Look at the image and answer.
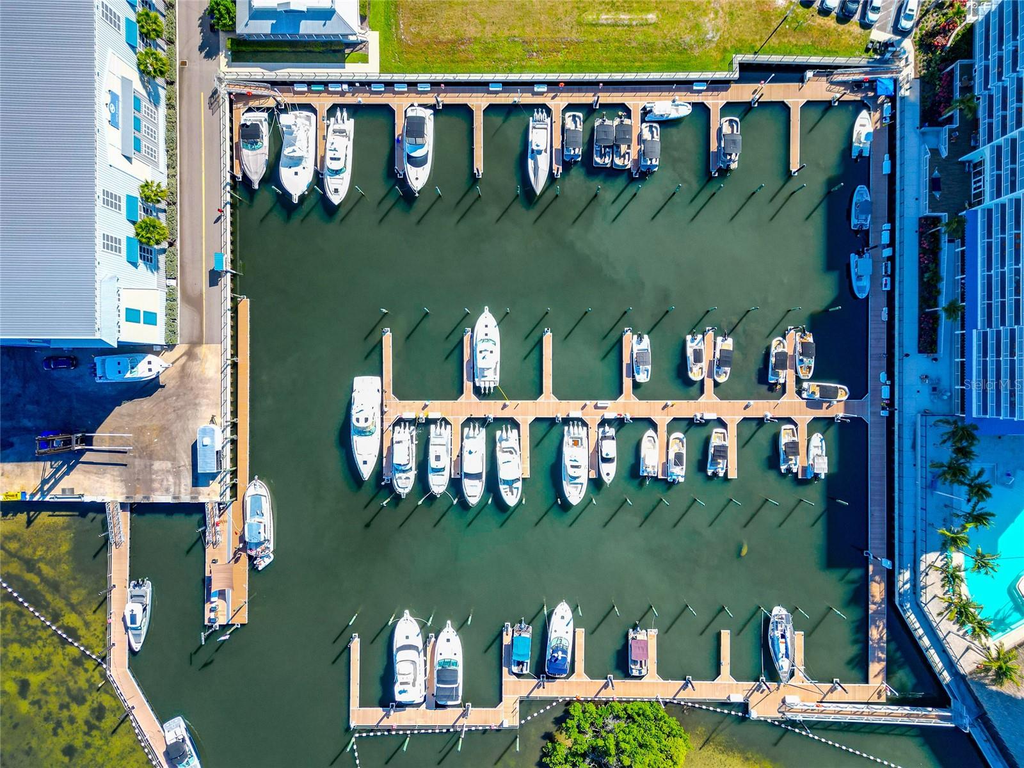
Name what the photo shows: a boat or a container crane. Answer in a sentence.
The one in the frame is a boat.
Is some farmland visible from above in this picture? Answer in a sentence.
No, farmland can't be seen anywhere here.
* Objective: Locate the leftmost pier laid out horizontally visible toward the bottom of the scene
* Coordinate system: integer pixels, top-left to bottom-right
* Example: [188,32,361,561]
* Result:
[351,699,519,728]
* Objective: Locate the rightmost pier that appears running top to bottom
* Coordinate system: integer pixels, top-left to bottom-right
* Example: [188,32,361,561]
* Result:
[867,78,888,680]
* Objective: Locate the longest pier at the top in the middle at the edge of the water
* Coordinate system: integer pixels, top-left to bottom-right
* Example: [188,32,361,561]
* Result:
[235,81,869,107]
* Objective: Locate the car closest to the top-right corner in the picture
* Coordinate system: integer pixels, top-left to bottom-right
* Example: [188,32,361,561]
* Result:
[897,0,919,32]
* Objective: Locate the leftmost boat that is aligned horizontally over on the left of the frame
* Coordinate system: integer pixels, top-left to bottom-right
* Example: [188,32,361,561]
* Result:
[89,354,174,382]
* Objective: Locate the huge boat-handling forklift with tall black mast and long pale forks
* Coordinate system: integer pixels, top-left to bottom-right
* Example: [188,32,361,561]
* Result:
[33,430,133,457]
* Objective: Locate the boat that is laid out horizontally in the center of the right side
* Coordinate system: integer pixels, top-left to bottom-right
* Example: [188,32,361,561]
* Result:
[796,382,850,402]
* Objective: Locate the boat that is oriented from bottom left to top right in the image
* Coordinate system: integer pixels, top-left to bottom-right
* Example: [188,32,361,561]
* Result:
[254,555,275,571]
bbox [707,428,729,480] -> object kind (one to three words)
boat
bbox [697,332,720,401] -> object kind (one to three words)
pier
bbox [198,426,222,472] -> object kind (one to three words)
shed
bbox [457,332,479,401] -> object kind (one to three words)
pier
